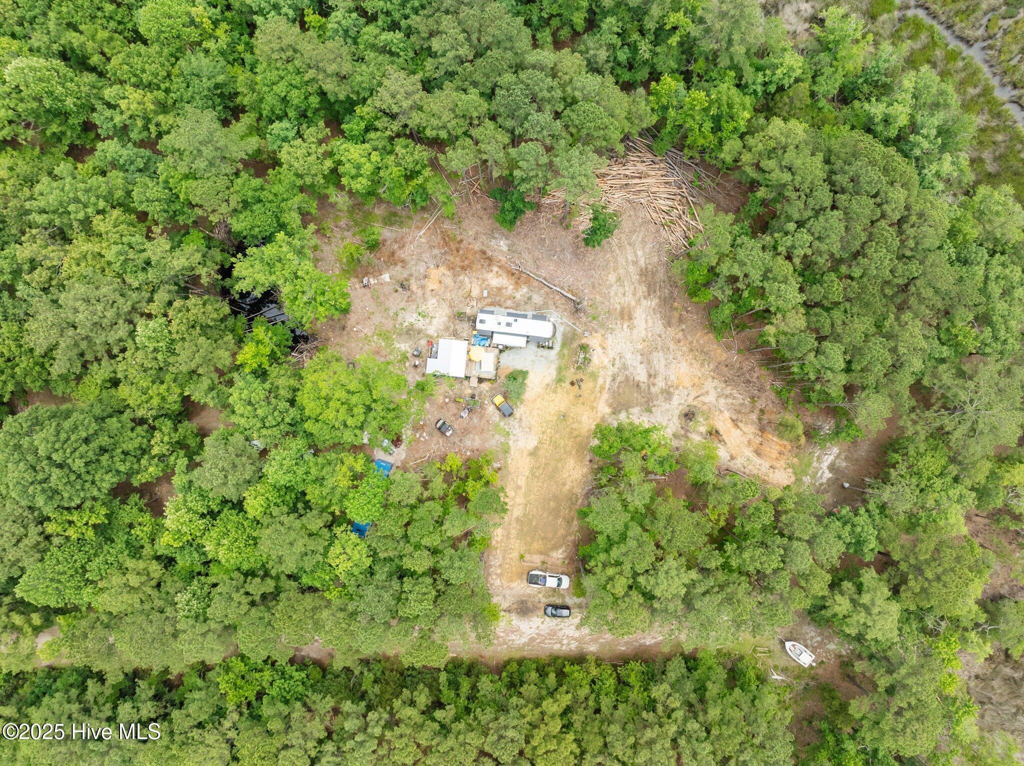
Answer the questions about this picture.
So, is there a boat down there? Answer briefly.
Yes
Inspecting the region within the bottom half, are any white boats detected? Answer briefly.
Yes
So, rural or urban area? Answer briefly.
rural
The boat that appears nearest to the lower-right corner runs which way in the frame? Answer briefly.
at an angle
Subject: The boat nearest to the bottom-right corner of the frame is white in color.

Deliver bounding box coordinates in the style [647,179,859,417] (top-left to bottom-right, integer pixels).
[789,643,818,670]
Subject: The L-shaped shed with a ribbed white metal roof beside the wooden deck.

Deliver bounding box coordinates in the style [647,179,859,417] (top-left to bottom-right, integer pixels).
[426,338,468,377]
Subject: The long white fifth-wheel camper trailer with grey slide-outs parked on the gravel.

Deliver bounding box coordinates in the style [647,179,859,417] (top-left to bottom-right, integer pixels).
[475,309,556,347]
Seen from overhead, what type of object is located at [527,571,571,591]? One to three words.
vehicle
